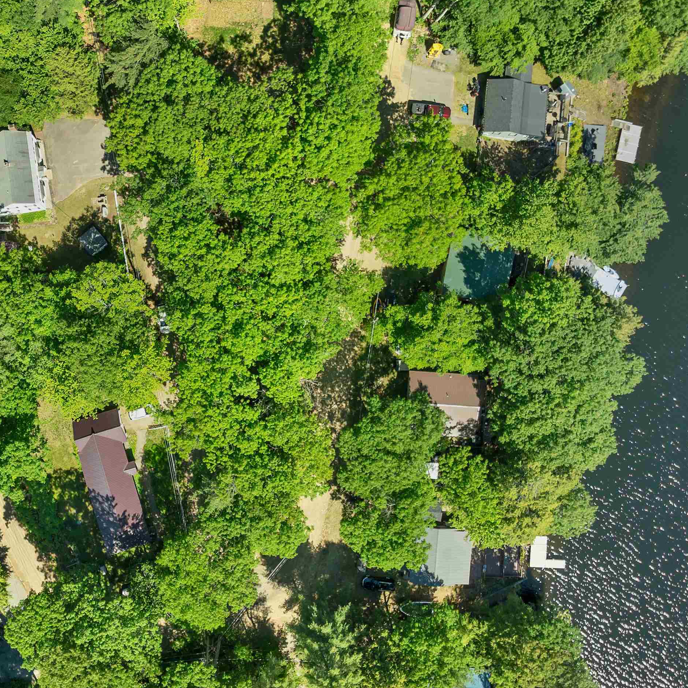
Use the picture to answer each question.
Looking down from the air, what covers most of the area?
trees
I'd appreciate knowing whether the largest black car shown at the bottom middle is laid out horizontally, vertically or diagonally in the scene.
horizontally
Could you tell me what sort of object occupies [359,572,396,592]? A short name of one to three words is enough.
car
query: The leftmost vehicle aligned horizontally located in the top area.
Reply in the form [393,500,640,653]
[409,101,451,121]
